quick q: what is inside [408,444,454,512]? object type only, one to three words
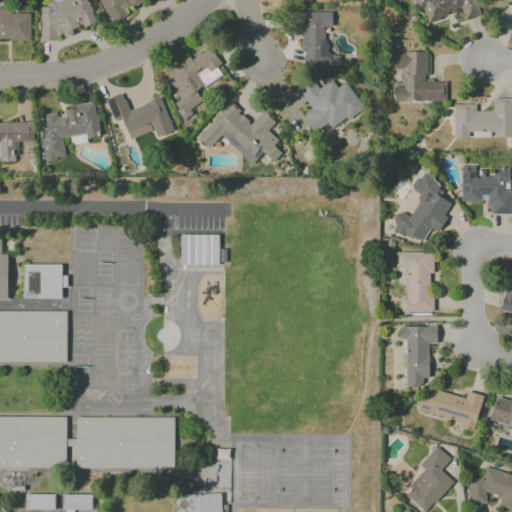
house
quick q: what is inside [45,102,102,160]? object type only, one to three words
house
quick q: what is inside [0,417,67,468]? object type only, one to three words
building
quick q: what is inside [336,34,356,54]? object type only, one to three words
swimming pool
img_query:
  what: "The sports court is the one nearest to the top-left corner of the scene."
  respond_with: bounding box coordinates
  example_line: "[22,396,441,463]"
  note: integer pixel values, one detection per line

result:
[74,226,98,251]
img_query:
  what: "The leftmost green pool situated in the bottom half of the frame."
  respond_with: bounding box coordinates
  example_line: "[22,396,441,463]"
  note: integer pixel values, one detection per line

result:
[390,439,404,459]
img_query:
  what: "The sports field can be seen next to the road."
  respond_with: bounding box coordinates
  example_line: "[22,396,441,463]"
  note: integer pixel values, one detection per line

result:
[221,177,382,434]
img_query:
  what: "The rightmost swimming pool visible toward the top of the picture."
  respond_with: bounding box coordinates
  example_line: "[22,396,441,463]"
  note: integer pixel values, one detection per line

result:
[445,158,460,184]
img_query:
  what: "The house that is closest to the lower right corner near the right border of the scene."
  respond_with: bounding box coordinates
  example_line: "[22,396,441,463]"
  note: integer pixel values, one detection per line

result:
[466,466,512,506]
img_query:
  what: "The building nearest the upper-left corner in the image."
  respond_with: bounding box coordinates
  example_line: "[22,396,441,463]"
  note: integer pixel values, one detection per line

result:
[0,10,31,40]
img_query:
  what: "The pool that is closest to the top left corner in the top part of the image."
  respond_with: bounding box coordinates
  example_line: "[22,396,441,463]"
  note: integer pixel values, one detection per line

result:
[80,146,109,170]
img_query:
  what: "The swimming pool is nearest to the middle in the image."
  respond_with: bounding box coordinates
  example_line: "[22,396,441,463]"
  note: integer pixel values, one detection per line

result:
[210,155,238,167]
